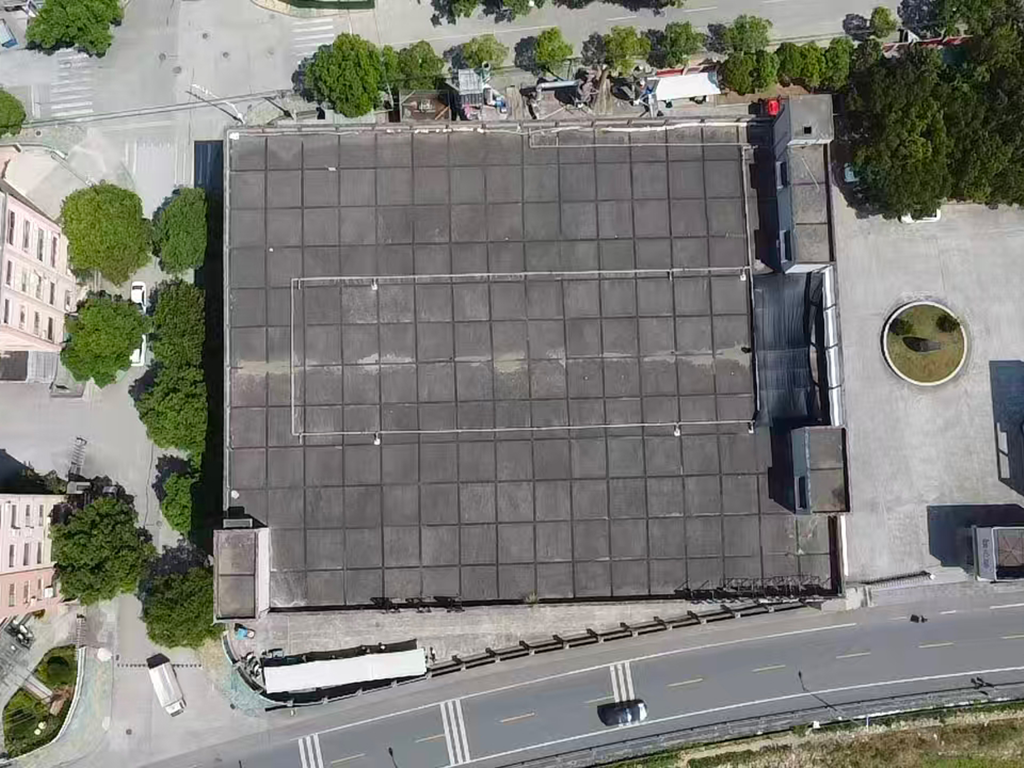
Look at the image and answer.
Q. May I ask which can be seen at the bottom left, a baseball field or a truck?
truck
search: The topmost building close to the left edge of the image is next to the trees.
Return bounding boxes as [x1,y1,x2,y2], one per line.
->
[0,197,75,348]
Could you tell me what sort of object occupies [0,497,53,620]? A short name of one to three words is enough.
building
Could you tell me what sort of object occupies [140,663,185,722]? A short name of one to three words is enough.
truck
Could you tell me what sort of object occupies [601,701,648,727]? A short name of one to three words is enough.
car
